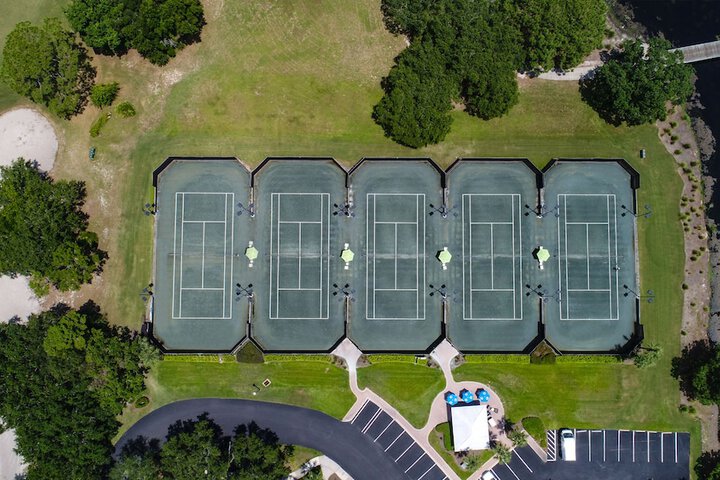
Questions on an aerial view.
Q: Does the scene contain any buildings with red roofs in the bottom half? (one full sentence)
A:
No, there is no building with a red roof in the bottom half.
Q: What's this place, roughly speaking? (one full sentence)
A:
The area seen from above is a sports ground.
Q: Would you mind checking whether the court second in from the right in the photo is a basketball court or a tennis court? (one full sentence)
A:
Looking closely, the court second in from the right is a tennis court.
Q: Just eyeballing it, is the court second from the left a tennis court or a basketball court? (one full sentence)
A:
It looks like the court second from the left is a tennis court.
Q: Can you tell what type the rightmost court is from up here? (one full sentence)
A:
I'd identify the rightmost court as a tennis court.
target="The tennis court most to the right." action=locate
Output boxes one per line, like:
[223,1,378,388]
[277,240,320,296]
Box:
[539,162,638,353]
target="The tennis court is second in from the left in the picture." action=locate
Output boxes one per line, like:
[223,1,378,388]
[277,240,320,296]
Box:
[250,160,348,353]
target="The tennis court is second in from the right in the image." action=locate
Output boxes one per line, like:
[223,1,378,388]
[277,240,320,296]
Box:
[444,161,541,353]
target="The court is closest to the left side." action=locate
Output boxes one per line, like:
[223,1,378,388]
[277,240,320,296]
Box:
[153,160,252,353]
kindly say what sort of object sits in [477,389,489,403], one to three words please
umbrella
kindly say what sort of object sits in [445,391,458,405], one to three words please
umbrella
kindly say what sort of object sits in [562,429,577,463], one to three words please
vehicle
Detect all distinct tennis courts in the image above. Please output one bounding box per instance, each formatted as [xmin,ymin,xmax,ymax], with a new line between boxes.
[250,160,348,353]
[444,161,541,353]
[153,160,252,353]
[347,161,444,353]
[539,162,638,353]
